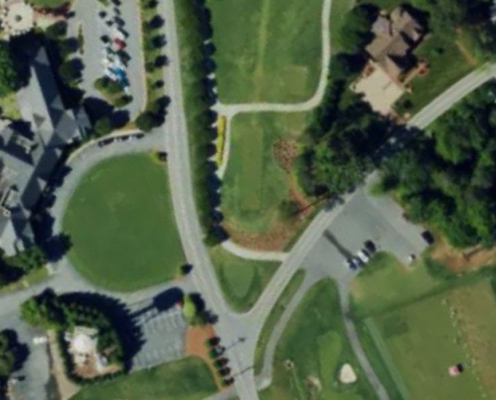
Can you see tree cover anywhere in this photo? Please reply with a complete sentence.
Yes, there is tree cover in the image.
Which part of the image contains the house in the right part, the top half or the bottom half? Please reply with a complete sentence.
You can find the house in the right part in the top half.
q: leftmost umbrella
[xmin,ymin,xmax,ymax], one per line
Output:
[73,333,90,350]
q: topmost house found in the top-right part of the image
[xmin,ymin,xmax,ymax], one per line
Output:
[359,2,424,86]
